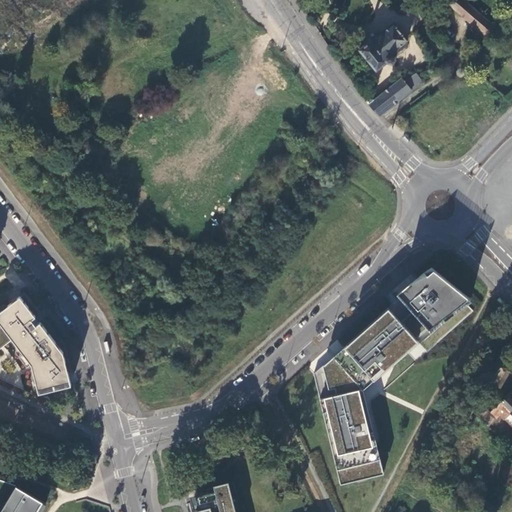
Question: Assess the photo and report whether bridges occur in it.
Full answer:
No, the frame has no bridge in it.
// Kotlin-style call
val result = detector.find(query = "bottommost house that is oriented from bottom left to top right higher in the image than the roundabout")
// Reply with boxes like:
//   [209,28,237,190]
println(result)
[368,73,422,116]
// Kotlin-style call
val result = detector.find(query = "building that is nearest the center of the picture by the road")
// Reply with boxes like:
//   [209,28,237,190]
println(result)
[344,311,418,380]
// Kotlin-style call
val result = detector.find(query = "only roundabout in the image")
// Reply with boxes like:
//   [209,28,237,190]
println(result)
[390,154,491,256]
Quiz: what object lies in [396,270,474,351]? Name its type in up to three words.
building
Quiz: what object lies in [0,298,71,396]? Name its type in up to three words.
building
